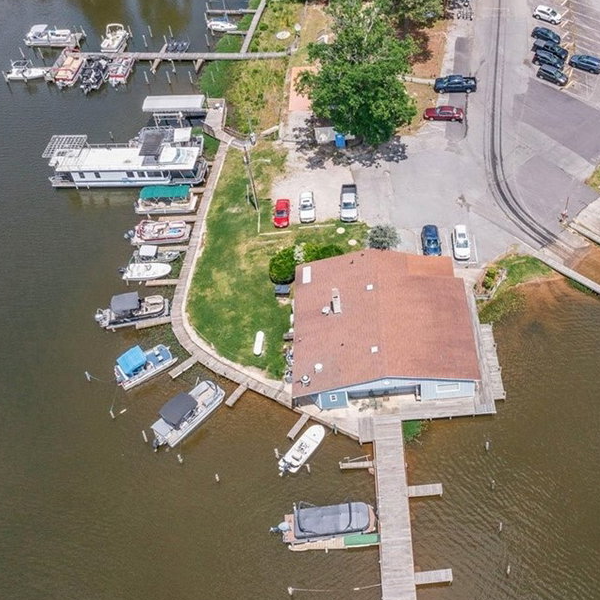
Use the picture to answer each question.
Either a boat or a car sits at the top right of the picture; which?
car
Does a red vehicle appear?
Yes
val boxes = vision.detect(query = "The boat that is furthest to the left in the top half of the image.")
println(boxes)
[3,60,49,82]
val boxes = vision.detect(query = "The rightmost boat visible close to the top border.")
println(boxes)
[205,0,238,32]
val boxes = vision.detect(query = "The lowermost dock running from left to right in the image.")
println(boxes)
[411,568,454,589]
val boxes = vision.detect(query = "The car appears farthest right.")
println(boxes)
[567,52,600,74]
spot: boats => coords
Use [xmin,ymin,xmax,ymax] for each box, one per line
[117,264,173,285]
[3,60,49,82]
[276,501,377,549]
[276,425,323,481]
[132,185,198,218]
[163,42,180,54]
[94,292,170,334]
[99,25,125,53]
[172,42,189,54]
[106,56,139,91]
[40,132,207,189]
[205,0,238,32]
[153,386,228,450]
[127,222,192,249]
[130,242,182,266]
[23,27,79,50]
[116,343,181,393]
[81,56,117,96]
[51,51,86,90]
